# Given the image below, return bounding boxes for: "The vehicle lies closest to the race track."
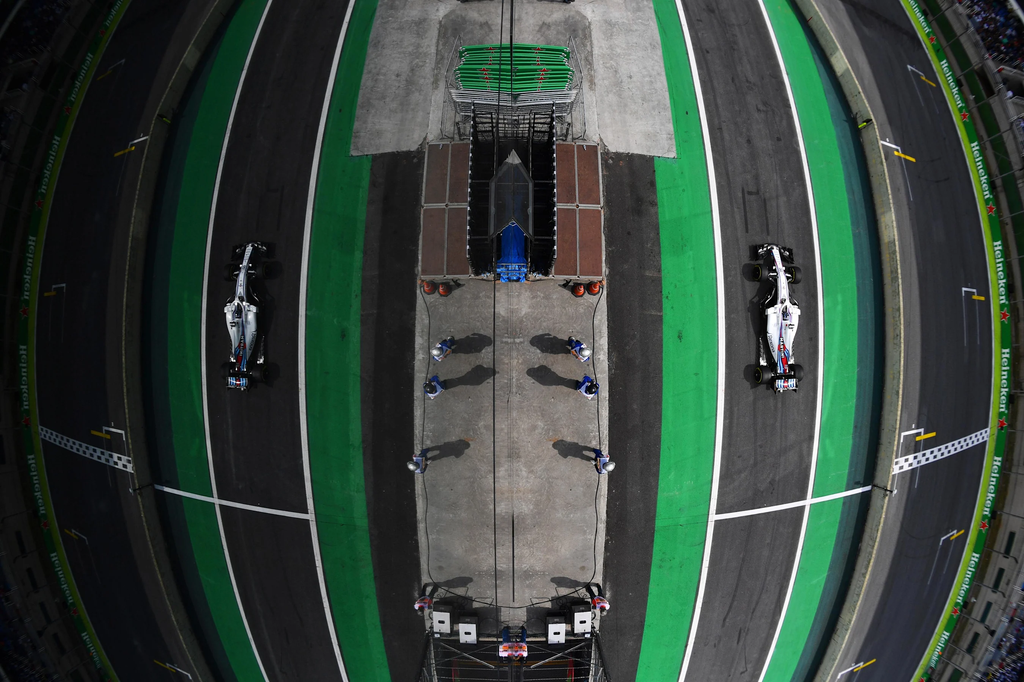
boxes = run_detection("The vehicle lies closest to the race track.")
[751,244,808,394]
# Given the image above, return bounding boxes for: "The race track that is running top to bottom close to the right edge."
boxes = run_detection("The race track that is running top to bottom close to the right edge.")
[839,0,993,682]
